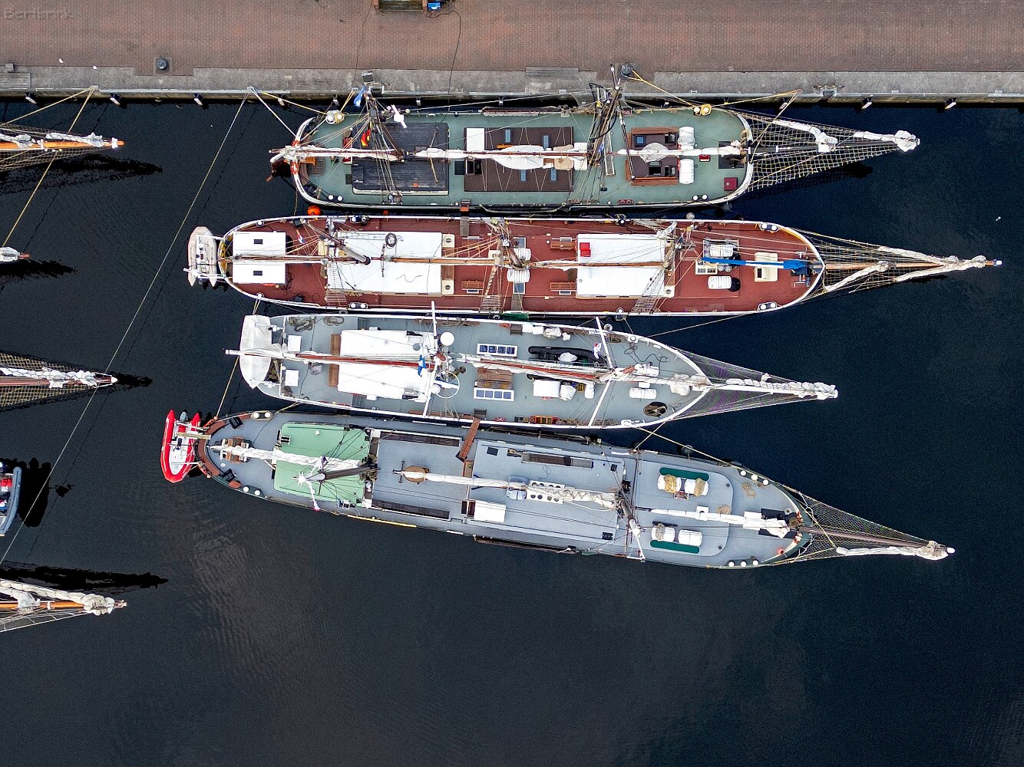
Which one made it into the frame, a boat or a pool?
boat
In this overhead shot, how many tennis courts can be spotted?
0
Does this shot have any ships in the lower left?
Yes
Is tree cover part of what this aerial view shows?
No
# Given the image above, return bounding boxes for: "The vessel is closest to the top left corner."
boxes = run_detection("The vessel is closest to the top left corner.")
[0,125,127,170]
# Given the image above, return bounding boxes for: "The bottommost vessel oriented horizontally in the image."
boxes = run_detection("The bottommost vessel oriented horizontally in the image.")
[0,580,128,633]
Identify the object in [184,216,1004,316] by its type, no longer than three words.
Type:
ship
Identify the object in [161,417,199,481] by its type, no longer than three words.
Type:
boat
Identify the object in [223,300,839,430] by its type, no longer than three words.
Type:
ship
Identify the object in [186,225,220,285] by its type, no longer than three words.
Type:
boat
